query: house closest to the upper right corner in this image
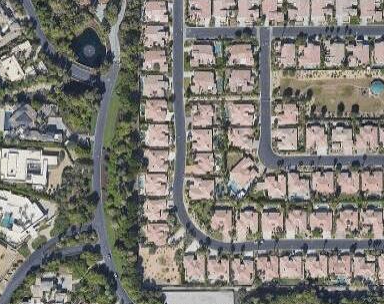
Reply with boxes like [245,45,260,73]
[361,0,383,22]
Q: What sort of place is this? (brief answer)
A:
residential area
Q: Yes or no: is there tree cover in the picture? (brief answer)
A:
Yes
